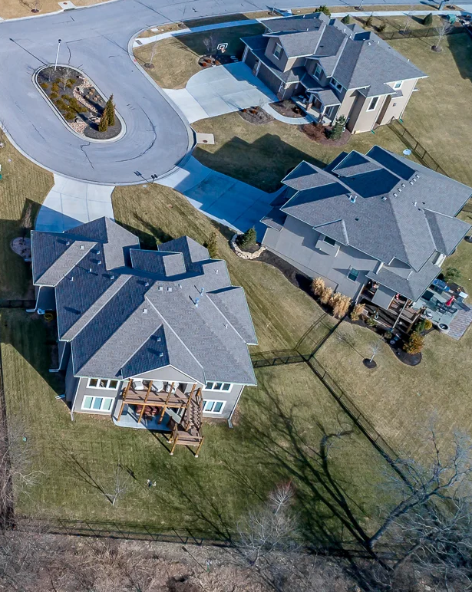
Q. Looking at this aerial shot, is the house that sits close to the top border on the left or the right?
right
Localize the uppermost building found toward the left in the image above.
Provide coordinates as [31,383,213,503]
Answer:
[30,213,258,459]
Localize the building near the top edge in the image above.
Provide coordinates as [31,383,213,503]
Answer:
[237,7,426,134]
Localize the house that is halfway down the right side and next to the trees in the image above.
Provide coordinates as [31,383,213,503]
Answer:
[256,139,472,360]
